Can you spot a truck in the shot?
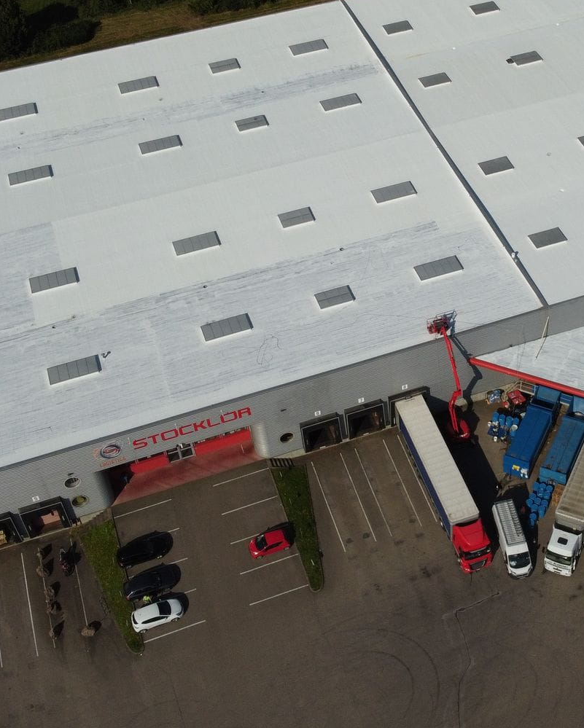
Yes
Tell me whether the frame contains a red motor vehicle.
Yes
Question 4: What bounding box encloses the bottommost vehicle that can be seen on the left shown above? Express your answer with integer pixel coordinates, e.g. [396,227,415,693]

[128,597,184,635]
